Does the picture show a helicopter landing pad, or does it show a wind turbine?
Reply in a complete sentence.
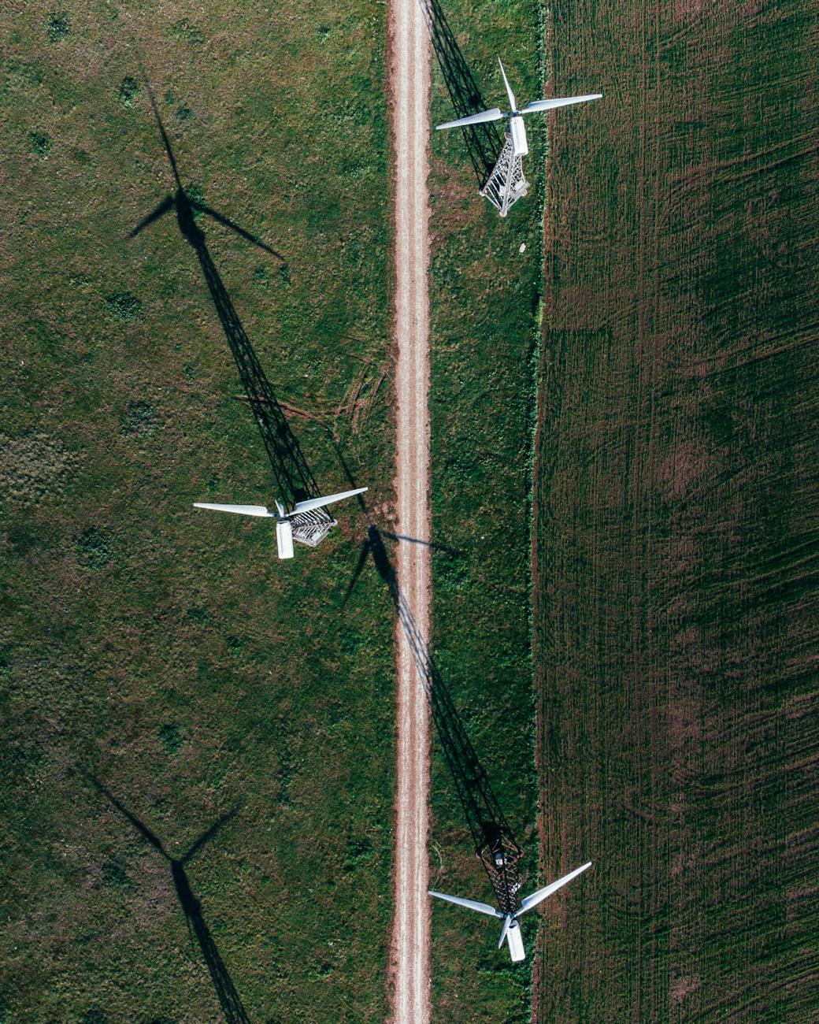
There is a wind turbine in the scene.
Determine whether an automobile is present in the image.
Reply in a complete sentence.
No, no automobile is visible in the scene.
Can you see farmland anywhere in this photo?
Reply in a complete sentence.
Yes, some farmland is visible.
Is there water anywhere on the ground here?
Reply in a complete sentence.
No, the scene doesn't show any water.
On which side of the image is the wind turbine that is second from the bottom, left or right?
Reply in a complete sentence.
You can find the wind turbine that is second from the bottom on the left side of the picture.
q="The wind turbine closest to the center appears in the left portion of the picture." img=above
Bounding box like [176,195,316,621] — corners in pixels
[197,489,364,557]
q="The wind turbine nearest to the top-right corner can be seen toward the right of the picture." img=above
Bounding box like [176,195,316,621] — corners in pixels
[435,61,605,219]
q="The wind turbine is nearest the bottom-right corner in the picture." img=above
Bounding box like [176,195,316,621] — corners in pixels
[429,827,591,960]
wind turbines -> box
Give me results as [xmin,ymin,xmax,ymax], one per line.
[435,61,605,219]
[429,827,591,960]
[197,489,364,557]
